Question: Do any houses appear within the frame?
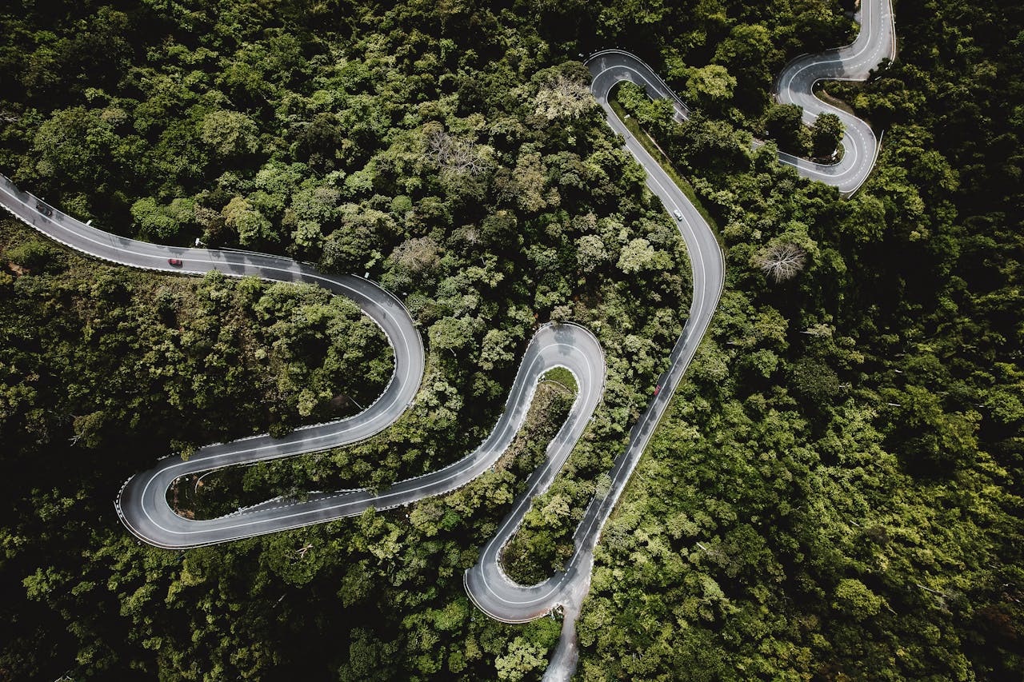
No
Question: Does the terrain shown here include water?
No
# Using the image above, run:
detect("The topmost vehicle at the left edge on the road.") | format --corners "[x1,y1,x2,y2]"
[34,202,54,217]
